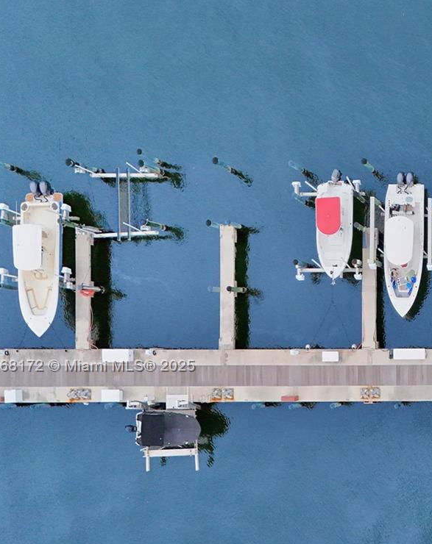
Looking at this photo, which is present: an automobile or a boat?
boat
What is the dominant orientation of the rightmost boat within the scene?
up and down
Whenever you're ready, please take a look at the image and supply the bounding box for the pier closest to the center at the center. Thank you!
[221,224,240,350]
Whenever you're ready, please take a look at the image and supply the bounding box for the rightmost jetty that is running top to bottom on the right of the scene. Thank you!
[362,228,381,350]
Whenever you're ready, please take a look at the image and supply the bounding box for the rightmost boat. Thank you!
[384,173,425,317]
